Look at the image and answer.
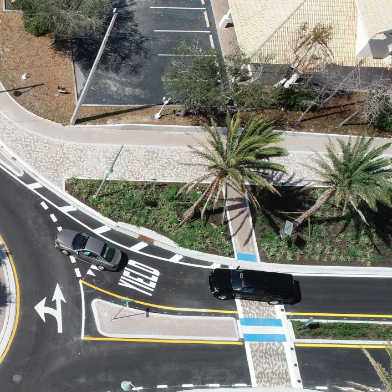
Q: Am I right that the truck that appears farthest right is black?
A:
Yes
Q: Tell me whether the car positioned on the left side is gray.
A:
Yes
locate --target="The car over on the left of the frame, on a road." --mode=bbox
[55,229,122,271]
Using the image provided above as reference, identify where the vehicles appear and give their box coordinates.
[55,229,122,271]
[207,266,294,305]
